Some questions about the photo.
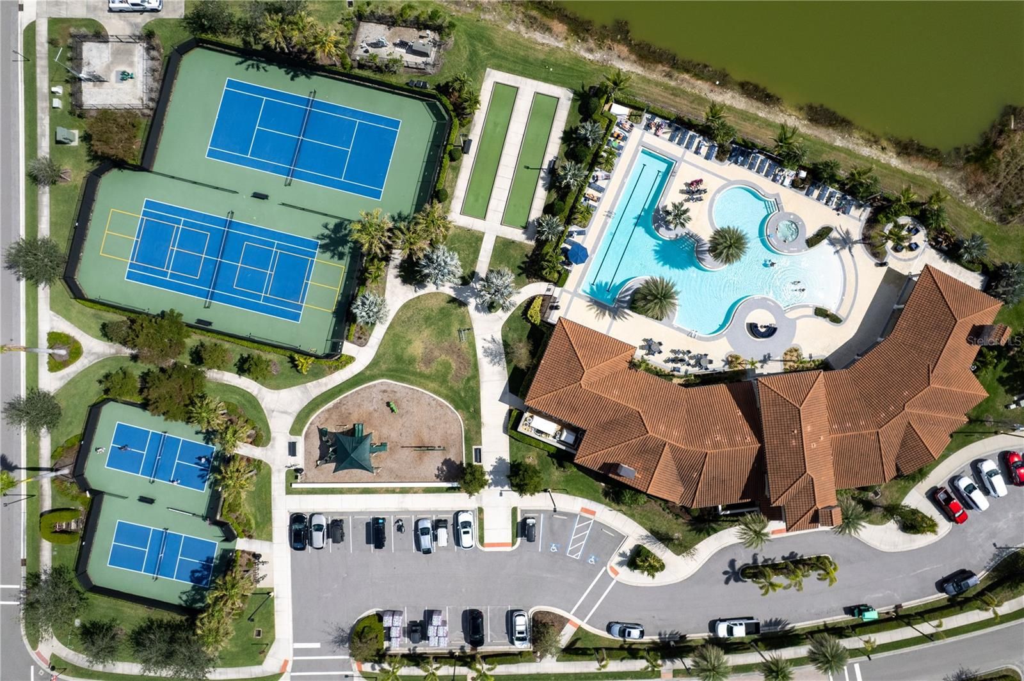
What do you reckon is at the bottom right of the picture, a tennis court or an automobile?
automobile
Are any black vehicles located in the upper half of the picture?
No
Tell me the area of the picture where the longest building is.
right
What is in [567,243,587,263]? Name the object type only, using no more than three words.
umbrella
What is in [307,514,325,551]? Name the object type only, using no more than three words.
car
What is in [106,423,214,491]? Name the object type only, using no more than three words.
sports court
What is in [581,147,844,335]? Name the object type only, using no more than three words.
swimming pool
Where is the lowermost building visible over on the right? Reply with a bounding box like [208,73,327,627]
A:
[525,264,1011,532]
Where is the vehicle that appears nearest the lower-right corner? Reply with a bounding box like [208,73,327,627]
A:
[945,573,985,597]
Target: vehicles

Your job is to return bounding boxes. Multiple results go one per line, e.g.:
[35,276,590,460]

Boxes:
[468,610,485,648]
[980,461,1010,498]
[397,520,404,533]
[328,520,343,547]
[945,573,985,597]
[936,486,972,525]
[959,476,991,512]
[1007,449,1024,486]
[457,511,475,552]
[371,518,384,551]
[609,623,646,643]
[288,514,306,553]
[307,514,325,551]
[854,607,882,623]
[526,519,536,545]
[717,620,762,641]
[435,524,448,551]
[408,623,420,648]
[416,519,433,556]
[512,612,529,649]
